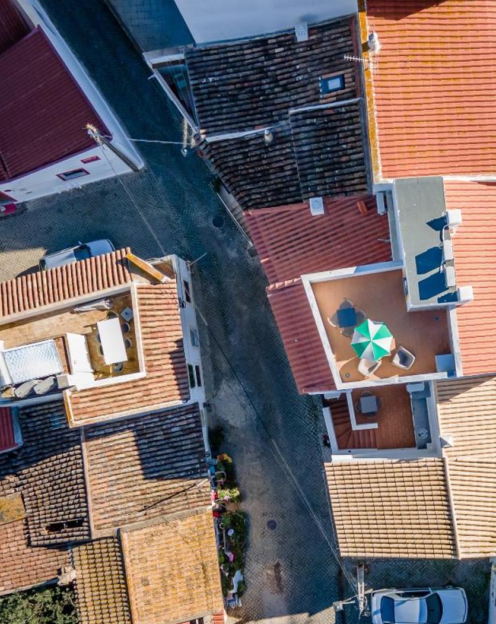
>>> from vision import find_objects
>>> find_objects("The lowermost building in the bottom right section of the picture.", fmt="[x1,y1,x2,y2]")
[322,375,496,559]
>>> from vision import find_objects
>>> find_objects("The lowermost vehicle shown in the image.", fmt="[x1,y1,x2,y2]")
[369,581,469,624]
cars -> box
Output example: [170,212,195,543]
[369,581,469,624]
[34,234,124,274]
